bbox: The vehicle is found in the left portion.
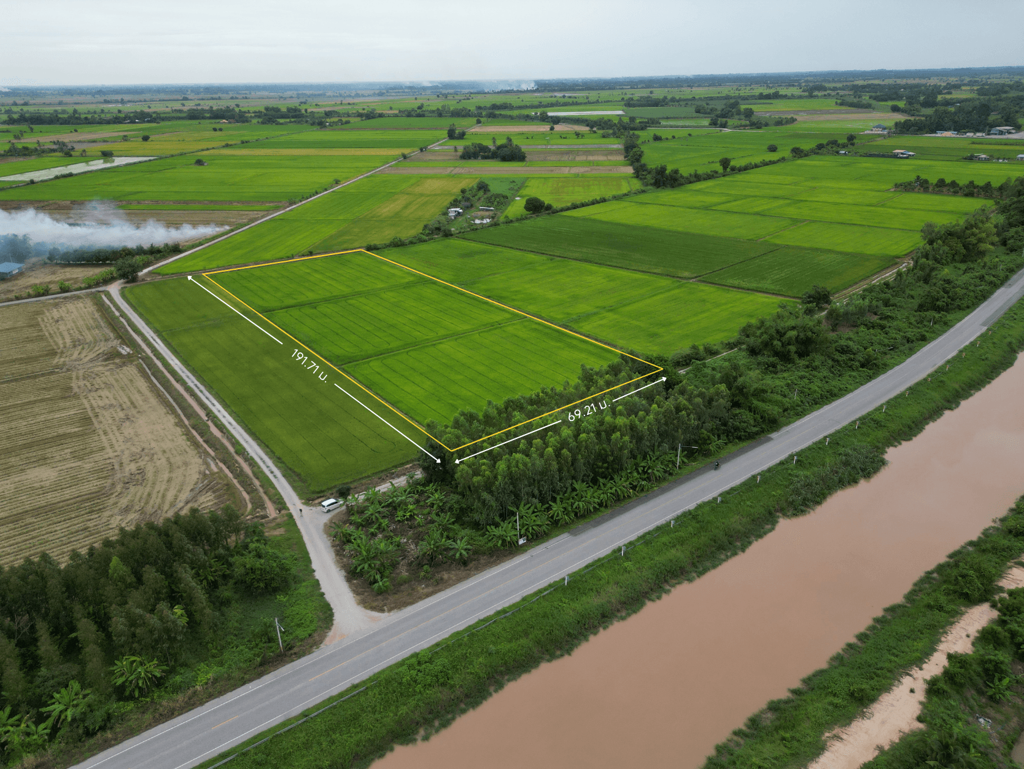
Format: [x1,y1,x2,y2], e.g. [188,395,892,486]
[321,496,347,511]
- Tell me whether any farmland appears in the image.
Yes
